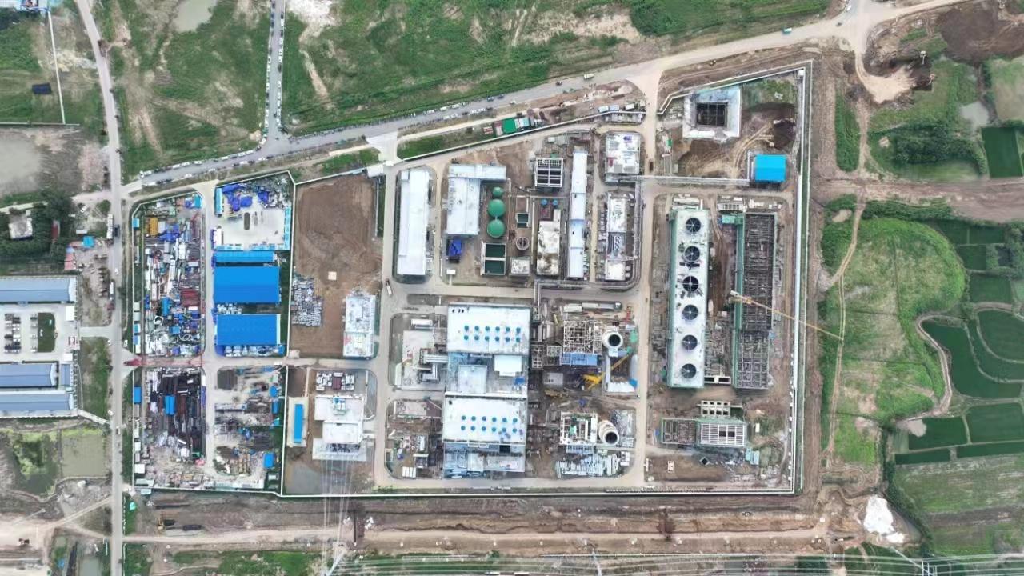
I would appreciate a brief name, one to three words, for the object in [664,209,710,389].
cooling tower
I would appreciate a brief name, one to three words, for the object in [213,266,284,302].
shed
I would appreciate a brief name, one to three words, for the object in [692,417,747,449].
building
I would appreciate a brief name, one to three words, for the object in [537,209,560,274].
building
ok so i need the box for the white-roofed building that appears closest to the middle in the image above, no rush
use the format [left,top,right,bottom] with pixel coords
[511,258,530,274]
